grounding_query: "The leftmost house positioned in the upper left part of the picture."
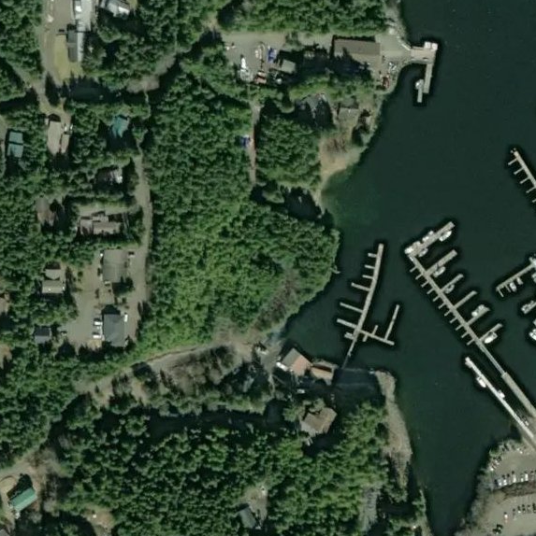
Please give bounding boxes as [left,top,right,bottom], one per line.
[7,132,23,158]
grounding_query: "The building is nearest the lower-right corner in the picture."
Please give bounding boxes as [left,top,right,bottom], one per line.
[303,406,333,434]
